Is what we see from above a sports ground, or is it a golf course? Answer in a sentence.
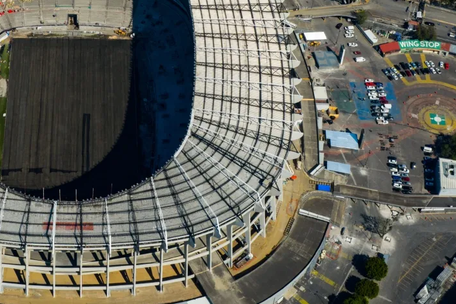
The area seen from above is a sports ground.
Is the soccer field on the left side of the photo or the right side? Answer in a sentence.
The soccer field sits on the left side.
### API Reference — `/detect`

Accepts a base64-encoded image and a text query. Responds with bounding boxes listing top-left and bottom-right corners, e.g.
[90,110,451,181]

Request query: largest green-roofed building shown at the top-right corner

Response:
[397,39,441,56]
